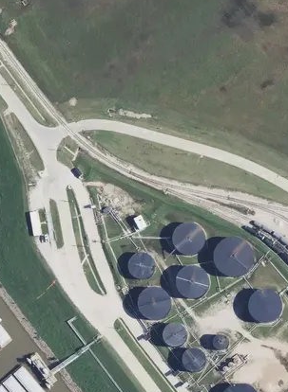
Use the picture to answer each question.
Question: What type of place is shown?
industrial area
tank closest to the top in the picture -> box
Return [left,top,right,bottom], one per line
[171,221,207,257]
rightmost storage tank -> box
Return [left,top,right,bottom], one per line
[248,288,284,323]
